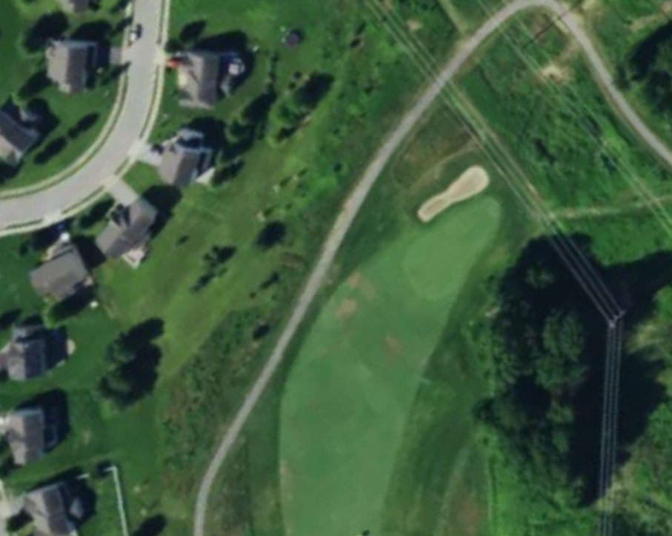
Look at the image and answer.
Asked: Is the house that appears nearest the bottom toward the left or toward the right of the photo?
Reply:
left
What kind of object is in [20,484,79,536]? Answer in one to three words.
house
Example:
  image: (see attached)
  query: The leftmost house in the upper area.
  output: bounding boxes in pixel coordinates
[0,104,36,166]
